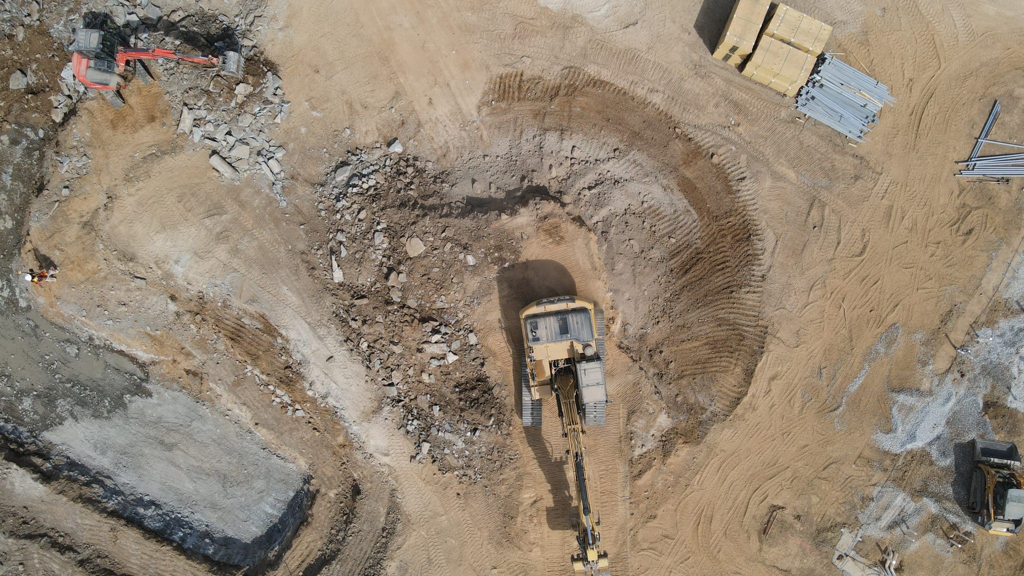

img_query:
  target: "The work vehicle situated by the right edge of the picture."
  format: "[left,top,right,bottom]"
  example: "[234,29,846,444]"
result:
[964,436,1024,536]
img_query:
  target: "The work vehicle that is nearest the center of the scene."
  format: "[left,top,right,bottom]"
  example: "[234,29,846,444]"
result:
[520,296,614,576]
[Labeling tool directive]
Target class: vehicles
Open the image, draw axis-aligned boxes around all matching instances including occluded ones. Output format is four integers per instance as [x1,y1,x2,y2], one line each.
[520,296,614,576]
[73,29,246,109]
[964,436,1024,536]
